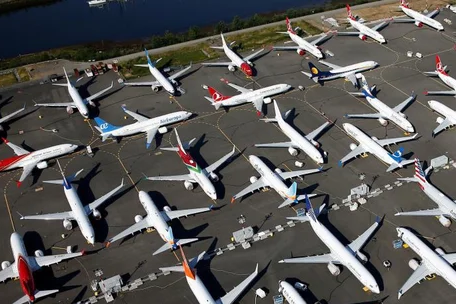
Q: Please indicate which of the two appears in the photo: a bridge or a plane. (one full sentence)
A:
I can see a plane in this picture.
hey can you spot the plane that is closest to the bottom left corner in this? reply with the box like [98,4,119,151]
[0,233,85,304]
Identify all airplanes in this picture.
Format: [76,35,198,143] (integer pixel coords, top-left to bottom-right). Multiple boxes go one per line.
[161,245,260,304]
[94,105,192,146]
[304,56,378,88]
[344,77,414,135]
[251,102,330,165]
[424,57,456,97]
[333,5,387,46]
[31,69,113,120]
[280,196,379,293]
[0,233,85,304]
[395,160,456,230]
[16,163,126,245]
[144,131,235,200]
[0,136,78,185]
[397,228,456,296]
[232,156,322,207]
[427,101,456,135]
[104,192,213,254]
[205,78,290,114]
[198,33,265,79]
[0,104,27,134]
[339,124,416,170]
[120,50,192,97]
[390,0,443,33]
[269,19,328,59]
